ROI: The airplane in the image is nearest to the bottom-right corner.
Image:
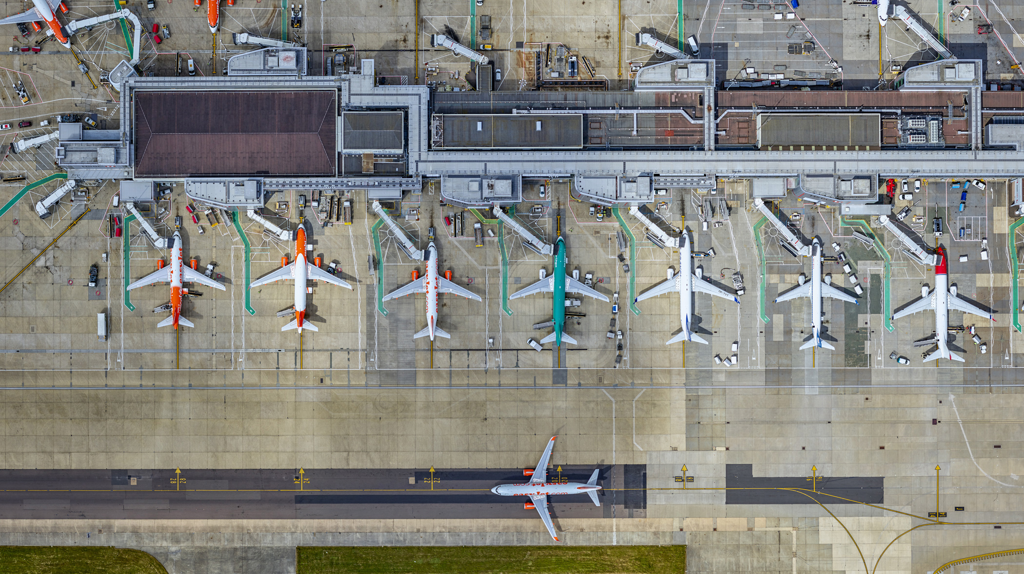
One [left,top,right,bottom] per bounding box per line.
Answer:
[890,247,997,363]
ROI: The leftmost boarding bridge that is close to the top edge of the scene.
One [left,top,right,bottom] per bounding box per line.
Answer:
[62,6,144,69]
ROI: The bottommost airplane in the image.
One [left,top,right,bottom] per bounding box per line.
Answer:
[491,438,603,541]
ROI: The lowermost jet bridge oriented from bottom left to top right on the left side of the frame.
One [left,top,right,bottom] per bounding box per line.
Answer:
[36,178,81,220]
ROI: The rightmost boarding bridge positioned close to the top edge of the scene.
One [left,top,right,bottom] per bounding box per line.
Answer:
[887,4,961,59]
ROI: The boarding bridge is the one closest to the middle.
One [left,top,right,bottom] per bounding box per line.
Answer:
[492,206,558,257]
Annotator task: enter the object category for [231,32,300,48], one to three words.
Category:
jet bridge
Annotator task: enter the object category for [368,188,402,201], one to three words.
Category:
shed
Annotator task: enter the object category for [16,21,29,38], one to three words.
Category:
vehicle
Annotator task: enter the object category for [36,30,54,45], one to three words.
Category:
work vehicle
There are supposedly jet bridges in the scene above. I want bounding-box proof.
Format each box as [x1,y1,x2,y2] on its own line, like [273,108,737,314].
[429,34,491,64]
[11,128,60,155]
[874,215,942,267]
[628,205,685,249]
[36,178,81,220]
[492,206,558,257]
[124,201,173,250]
[633,33,697,59]
[231,32,300,48]
[371,202,429,262]
[887,4,961,59]
[246,208,298,243]
[1011,206,1024,221]
[748,200,818,258]
[62,6,144,69]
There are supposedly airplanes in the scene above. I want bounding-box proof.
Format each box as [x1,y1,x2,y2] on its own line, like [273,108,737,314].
[0,0,74,47]
[252,223,350,333]
[491,438,603,541]
[776,238,860,349]
[384,241,481,340]
[632,230,738,345]
[126,231,225,329]
[512,236,610,346]
[878,0,890,26]
[890,247,997,363]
